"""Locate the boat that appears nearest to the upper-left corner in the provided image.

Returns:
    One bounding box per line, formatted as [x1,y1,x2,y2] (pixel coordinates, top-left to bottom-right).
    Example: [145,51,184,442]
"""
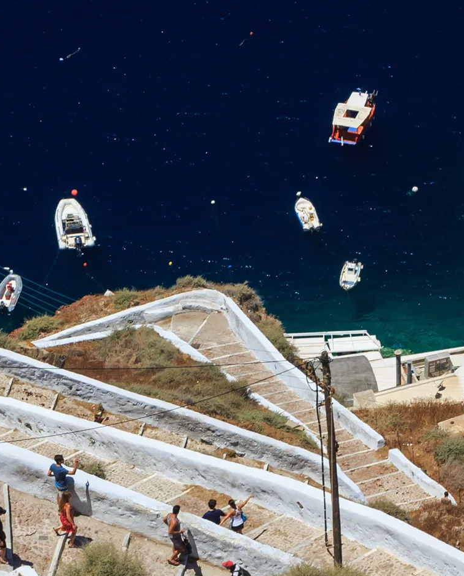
[52,196,98,257]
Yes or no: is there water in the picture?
Yes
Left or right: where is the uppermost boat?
right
